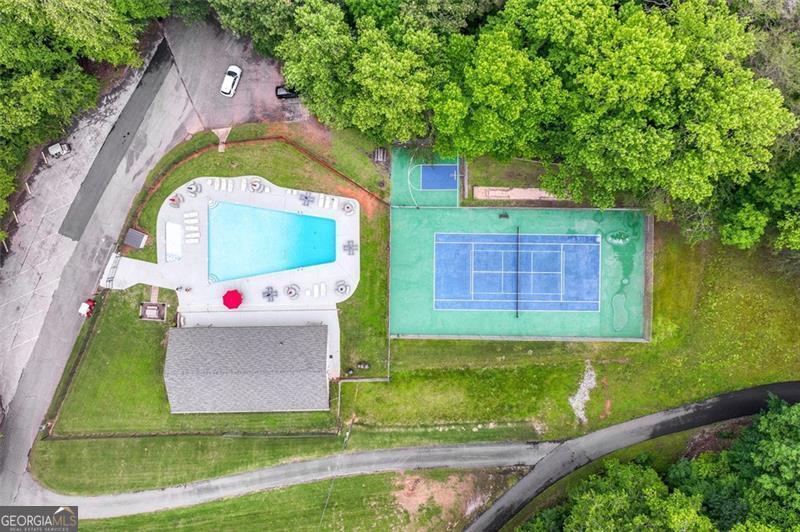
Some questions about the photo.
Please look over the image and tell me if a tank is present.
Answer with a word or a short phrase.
No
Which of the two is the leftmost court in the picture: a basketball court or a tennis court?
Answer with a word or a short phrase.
basketball court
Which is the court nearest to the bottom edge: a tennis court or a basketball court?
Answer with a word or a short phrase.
tennis court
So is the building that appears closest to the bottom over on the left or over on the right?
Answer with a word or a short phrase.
left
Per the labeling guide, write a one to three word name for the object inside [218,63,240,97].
car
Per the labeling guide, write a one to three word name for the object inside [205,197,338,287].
swimming pool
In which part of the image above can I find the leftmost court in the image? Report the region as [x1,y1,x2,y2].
[391,147,460,207]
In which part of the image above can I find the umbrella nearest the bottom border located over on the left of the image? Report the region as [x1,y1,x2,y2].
[223,289,243,309]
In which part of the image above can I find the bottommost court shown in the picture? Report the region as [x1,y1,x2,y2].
[390,207,650,342]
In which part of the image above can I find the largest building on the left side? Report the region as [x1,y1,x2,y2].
[163,322,330,415]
